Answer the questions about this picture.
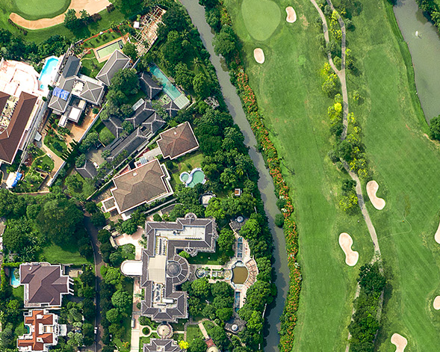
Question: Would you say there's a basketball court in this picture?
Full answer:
No, the frame has no basketball court in it.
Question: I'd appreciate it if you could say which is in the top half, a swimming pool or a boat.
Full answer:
There is a swimming pool in the top half.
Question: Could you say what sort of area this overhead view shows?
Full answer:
What you see here is a golf course.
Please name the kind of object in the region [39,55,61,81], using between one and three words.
swimming pool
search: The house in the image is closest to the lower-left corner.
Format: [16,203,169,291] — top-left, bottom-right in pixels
[15,311,68,345]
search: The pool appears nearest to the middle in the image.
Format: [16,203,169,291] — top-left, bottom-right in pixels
[181,170,205,186]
